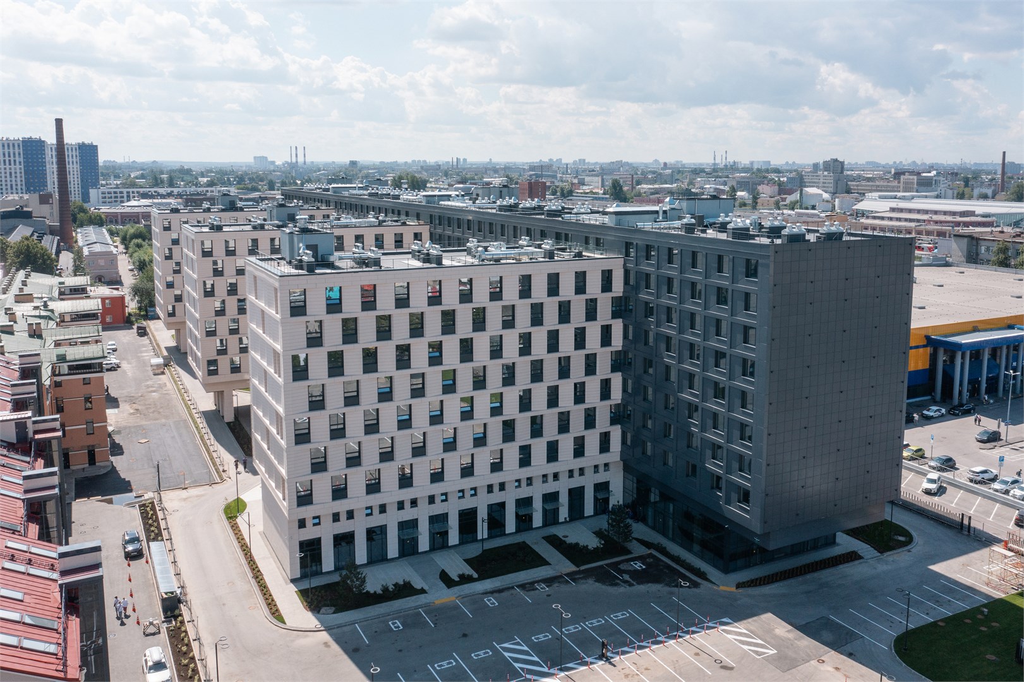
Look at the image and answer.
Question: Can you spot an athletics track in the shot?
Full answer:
No, I can see no athletics track in this picture.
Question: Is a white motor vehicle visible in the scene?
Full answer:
Yes, this view includes a white motor vehicle.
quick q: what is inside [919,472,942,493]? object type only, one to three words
car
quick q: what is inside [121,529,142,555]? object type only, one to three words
car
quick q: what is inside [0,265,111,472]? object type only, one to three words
building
